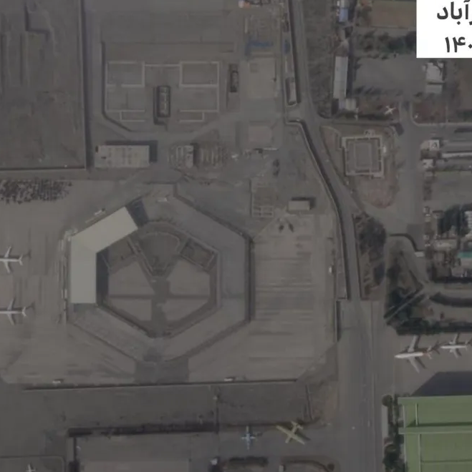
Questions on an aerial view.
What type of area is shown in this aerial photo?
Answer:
airport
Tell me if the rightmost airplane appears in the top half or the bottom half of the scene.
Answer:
bottom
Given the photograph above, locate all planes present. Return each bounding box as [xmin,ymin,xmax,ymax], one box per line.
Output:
[385,105,394,114]
[0,246,22,273]
[0,299,25,325]
[276,423,305,445]
[441,333,470,360]
[240,427,255,449]
[395,334,432,374]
